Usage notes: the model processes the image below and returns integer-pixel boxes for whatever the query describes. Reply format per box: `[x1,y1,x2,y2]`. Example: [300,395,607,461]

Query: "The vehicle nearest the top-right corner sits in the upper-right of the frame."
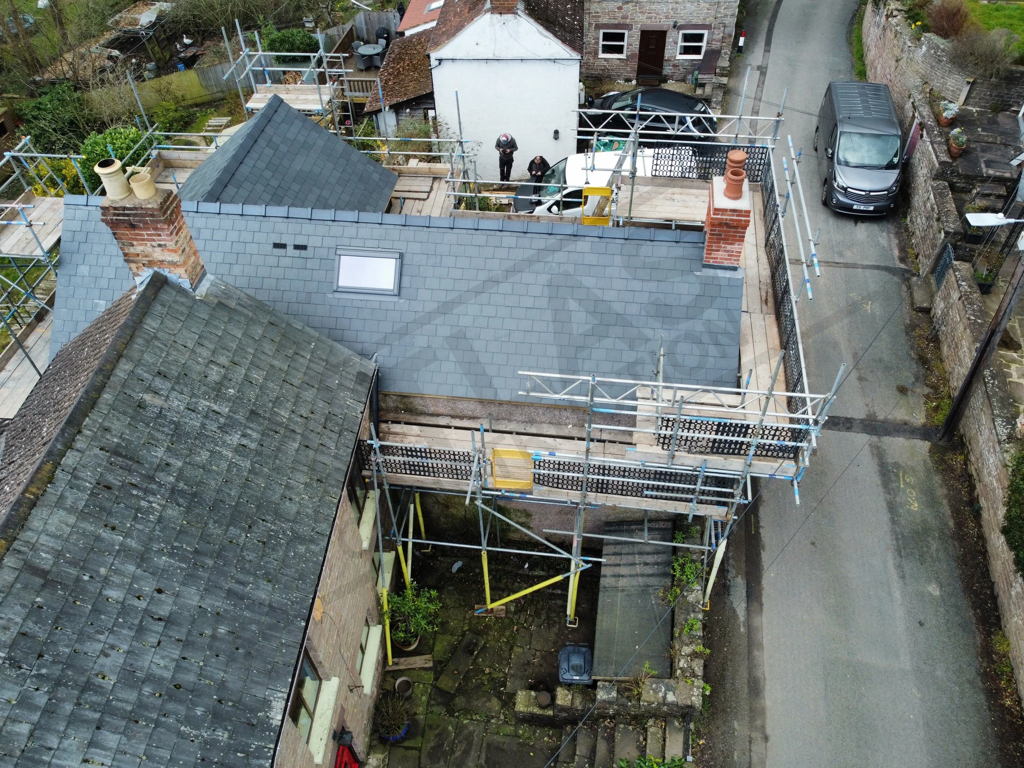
[809,82,912,222]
